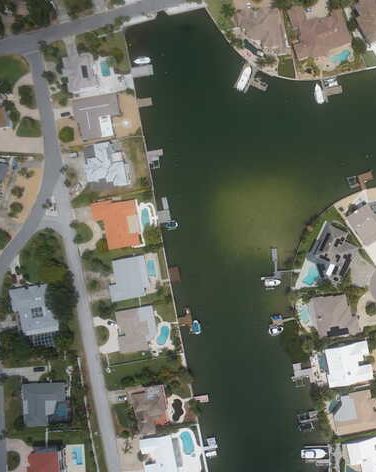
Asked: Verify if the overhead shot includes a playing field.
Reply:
No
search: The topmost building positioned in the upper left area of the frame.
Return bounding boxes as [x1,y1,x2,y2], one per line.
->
[62,52,98,92]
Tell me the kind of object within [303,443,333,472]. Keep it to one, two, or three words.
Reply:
pier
